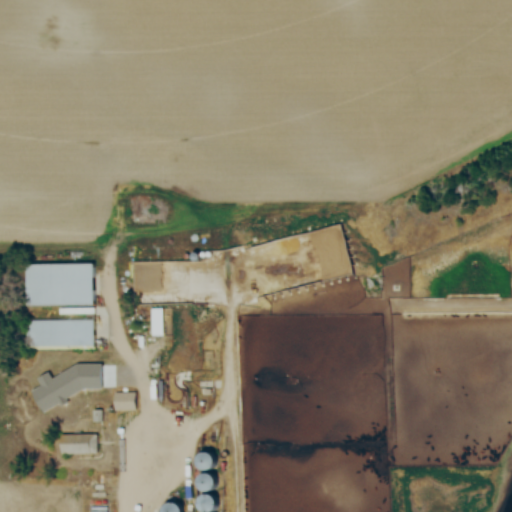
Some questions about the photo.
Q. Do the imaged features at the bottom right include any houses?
No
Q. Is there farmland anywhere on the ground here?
Yes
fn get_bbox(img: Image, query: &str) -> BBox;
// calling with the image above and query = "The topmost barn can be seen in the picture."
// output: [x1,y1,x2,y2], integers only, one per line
[25,264,94,306]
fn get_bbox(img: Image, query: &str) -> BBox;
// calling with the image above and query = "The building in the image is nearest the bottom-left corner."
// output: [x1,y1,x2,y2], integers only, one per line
[59,434,98,456]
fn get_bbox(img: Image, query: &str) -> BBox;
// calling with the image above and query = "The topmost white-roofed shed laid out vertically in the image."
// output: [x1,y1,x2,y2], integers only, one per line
[150,308,164,337]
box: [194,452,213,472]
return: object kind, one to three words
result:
silo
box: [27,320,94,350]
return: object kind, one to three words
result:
barn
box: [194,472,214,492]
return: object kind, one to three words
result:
silo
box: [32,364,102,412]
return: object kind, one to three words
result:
house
